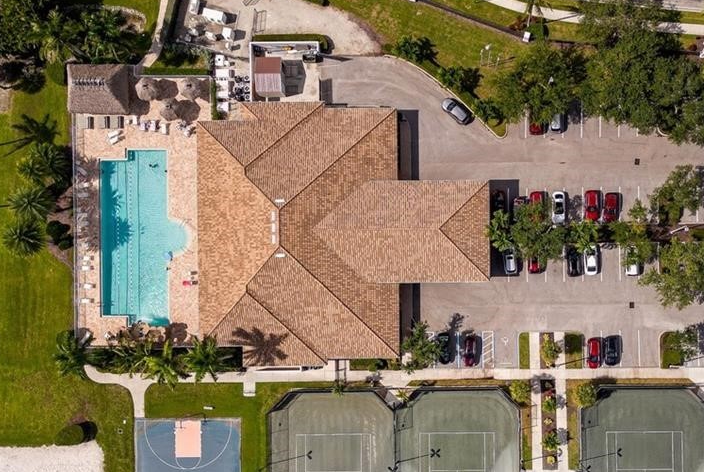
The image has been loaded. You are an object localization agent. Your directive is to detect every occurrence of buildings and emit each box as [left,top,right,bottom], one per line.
[253,54,282,96]
[63,61,133,118]
[194,101,489,370]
